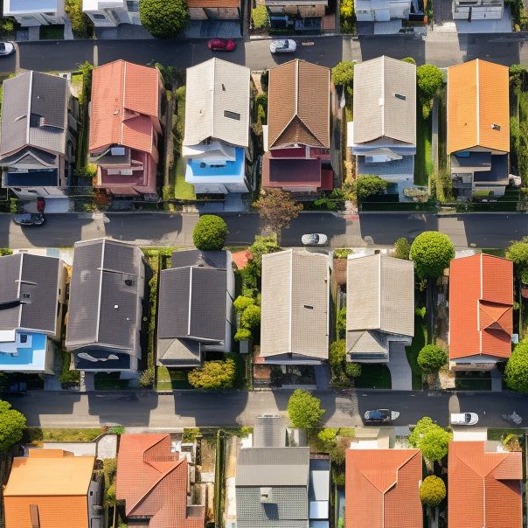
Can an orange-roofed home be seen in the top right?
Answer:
Yes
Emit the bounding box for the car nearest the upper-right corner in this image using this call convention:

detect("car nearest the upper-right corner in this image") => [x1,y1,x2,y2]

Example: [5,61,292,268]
[270,38,295,53]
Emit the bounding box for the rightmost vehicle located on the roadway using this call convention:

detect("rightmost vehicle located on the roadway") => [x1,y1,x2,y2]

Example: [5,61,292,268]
[450,411,476,427]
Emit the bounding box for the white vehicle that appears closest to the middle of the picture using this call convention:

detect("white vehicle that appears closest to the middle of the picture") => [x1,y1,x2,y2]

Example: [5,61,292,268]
[301,233,327,246]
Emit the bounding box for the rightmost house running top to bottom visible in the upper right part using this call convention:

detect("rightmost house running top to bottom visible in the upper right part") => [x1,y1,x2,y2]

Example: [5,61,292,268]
[448,63,508,203]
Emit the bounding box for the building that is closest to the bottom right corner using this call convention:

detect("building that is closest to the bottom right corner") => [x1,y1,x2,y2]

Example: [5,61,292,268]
[448,441,522,528]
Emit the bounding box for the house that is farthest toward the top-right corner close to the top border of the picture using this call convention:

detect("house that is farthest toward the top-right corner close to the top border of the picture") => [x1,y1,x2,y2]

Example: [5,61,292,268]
[452,0,503,26]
